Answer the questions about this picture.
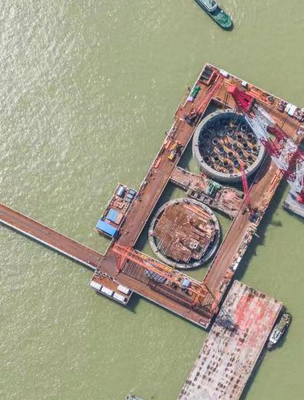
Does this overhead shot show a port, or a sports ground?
port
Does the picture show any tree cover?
No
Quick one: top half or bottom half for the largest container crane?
bottom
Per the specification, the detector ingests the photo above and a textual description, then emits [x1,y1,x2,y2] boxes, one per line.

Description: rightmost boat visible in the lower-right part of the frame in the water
[261,309,291,354]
